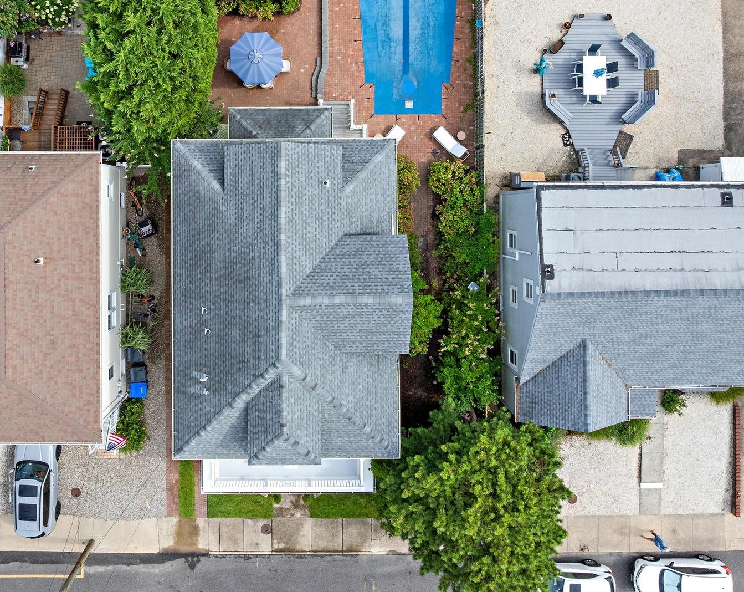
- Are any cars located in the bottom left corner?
Yes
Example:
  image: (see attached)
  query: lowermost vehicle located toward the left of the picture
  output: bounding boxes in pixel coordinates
[4,446,58,542]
